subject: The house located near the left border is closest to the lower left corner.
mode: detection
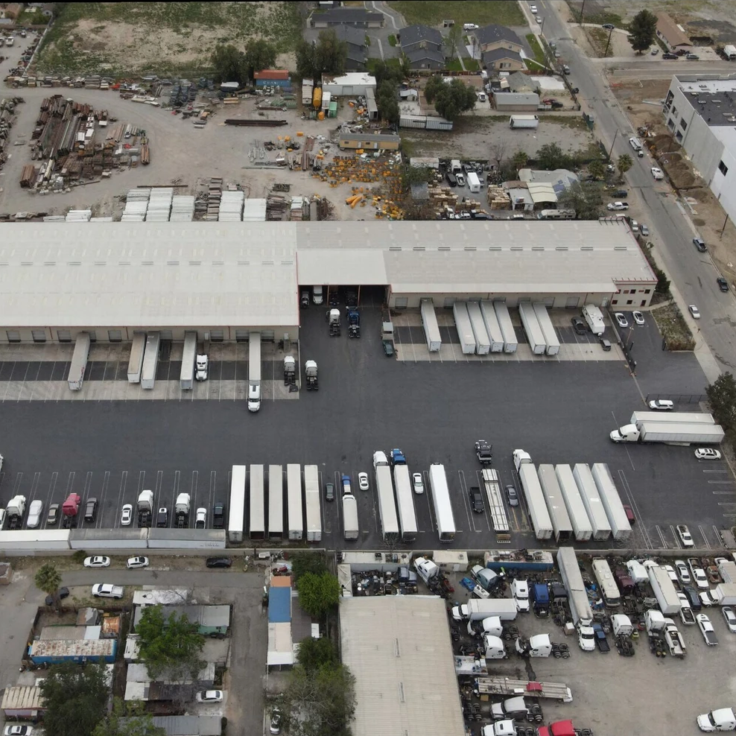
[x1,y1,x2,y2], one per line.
[1,688,44,715]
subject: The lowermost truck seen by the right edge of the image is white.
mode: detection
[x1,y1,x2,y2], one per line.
[692,707,736,731]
